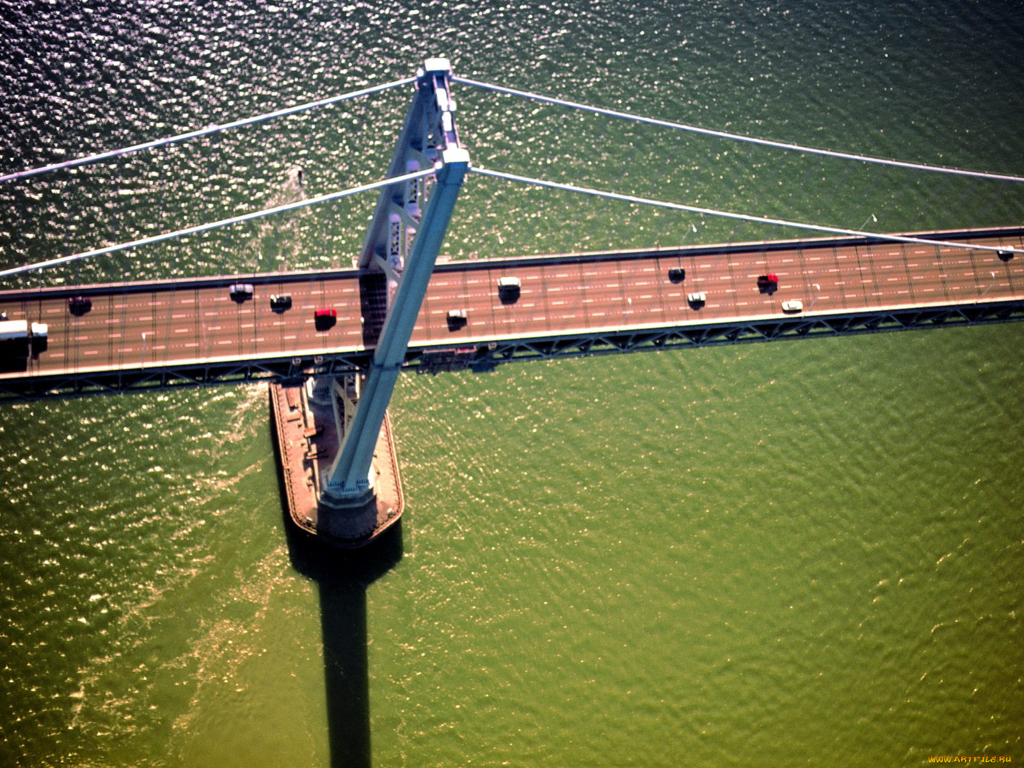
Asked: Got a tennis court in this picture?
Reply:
No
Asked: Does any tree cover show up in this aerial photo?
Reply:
No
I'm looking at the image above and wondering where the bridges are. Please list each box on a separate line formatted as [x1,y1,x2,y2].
[0,61,1024,495]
